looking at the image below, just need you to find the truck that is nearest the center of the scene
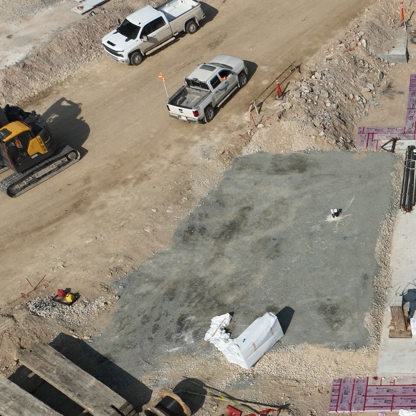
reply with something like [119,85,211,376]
[150,56,251,124]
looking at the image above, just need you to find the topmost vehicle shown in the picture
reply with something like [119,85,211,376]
[101,0,202,67]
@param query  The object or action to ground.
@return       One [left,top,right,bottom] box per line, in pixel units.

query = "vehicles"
[150,56,251,124]
[101,0,202,67]
[0,121,79,197]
